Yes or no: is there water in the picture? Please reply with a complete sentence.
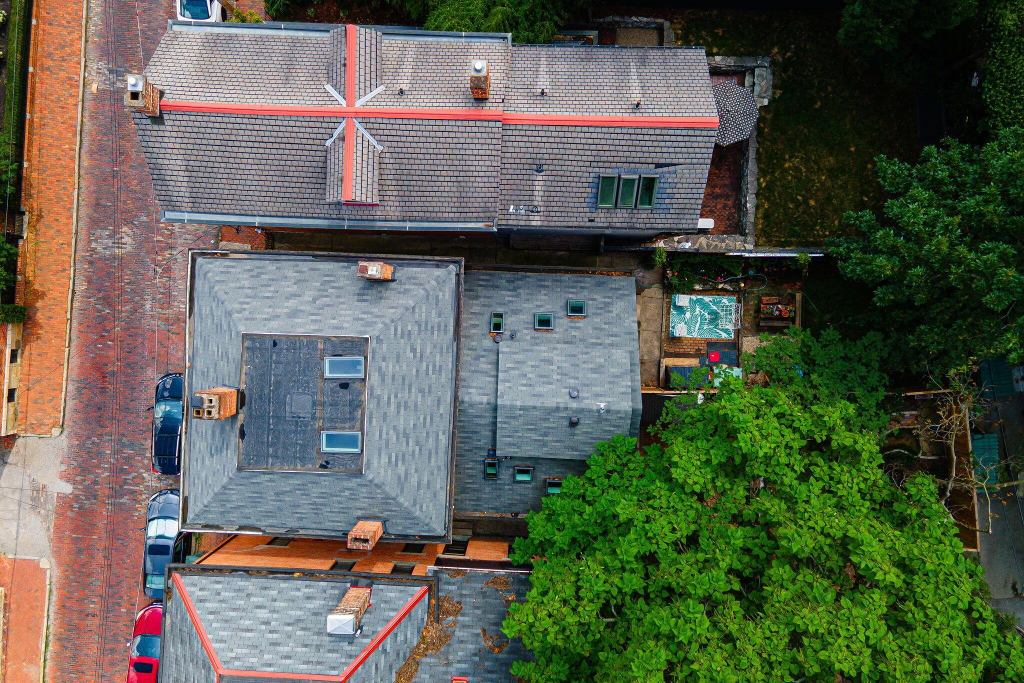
No, water can't be seen anywhere here.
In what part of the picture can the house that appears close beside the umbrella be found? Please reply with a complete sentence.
Look in the top portion of the view to spot the house that appears close beside the umbrella.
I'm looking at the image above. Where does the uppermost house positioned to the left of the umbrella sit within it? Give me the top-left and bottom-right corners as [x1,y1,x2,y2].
[123,24,720,238]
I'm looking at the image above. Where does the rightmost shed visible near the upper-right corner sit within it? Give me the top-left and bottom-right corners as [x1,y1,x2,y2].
[890,88,947,153]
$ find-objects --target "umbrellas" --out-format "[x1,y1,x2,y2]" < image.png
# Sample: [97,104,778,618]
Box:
[712,83,756,148]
